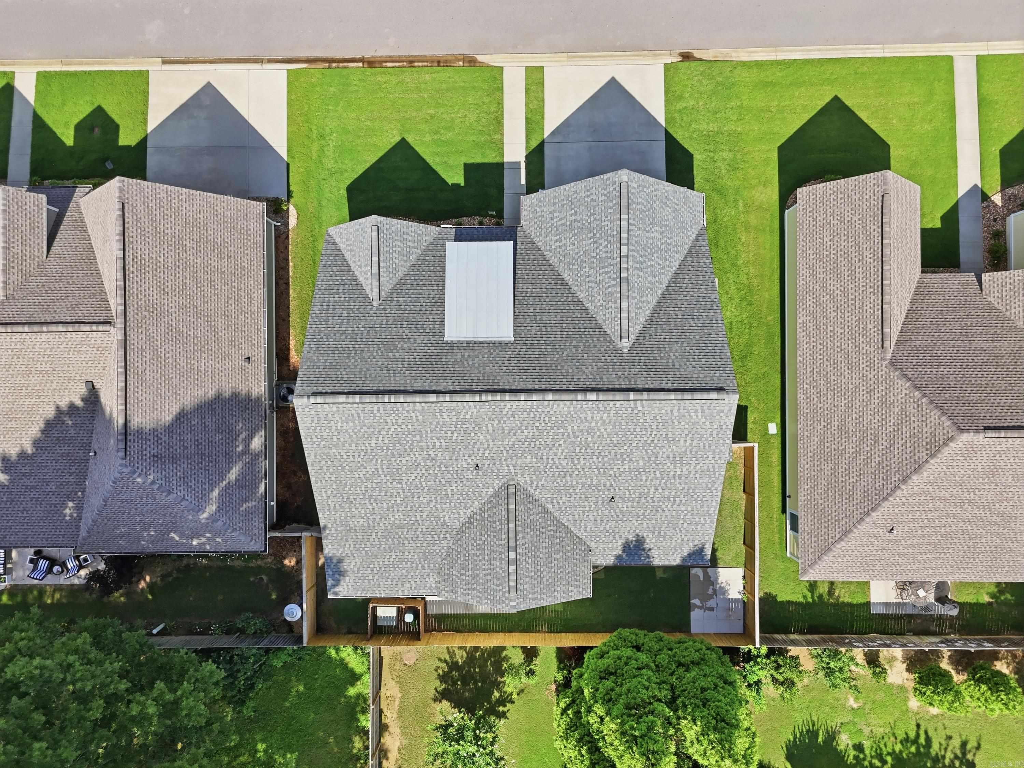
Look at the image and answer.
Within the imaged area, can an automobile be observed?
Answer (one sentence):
No, I find no automobile anywhere in the image.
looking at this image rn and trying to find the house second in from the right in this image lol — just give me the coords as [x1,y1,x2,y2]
[294,168,739,612]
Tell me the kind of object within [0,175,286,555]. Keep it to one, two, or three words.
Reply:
house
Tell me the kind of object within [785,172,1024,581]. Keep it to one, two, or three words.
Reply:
house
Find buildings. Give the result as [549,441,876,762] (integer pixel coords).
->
[294,168,739,612]
[0,175,286,555]
[785,172,1024,581]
